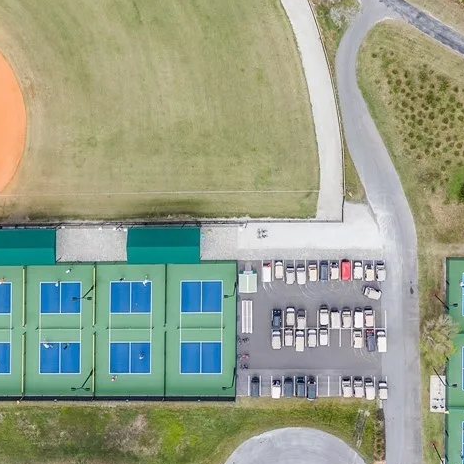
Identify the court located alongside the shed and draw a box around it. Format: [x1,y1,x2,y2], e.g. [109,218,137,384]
[166,266,236,397]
